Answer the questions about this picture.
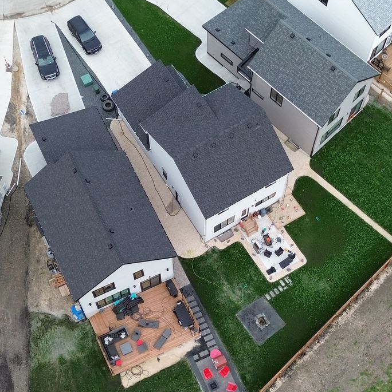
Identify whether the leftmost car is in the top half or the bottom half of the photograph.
top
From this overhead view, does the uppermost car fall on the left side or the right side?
left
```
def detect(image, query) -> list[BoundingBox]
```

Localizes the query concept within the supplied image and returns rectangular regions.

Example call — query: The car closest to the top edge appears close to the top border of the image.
[67,13,101,54]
